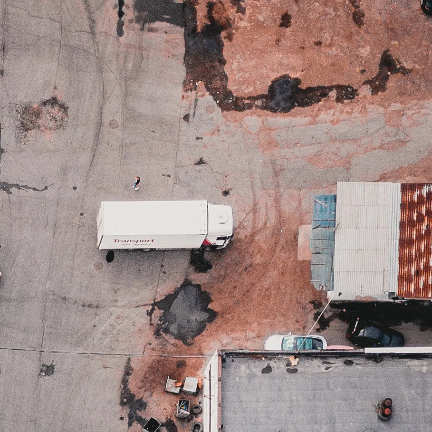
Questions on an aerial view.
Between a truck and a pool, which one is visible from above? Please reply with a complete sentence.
Looking from above, you can make out a truck.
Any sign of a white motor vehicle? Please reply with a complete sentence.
Yes, a white motor vehicle is visible in the scene.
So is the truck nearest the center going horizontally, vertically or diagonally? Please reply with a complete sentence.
Seen from above, the truck nearest the center lies horizontally.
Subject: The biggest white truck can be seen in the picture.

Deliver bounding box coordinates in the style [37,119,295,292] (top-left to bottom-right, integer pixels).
[96,202,232,253]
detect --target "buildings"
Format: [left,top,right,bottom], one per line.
[205,346,432,432]
[311,182,401,305]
